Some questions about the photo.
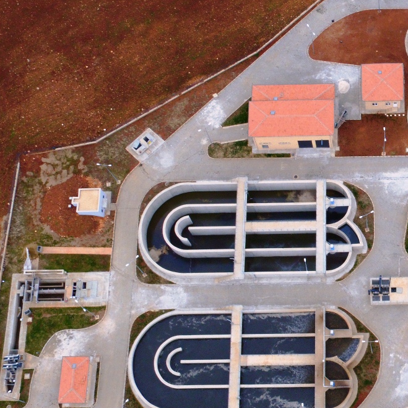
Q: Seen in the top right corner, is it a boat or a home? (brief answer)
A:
home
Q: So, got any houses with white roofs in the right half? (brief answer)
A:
No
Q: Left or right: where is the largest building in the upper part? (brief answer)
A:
right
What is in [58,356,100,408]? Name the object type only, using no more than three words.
house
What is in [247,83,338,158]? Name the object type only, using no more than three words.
building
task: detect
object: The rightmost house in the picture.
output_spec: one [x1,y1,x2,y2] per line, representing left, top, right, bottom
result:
[361,63,405,113]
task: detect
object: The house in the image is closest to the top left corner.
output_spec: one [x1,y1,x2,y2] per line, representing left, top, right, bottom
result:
[71,189,112,218]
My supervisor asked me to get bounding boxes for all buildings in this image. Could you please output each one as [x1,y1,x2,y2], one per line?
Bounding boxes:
[361,63,405,113]
[58,356,100,408]
[71,189,112,218]
[247,83,338,158]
